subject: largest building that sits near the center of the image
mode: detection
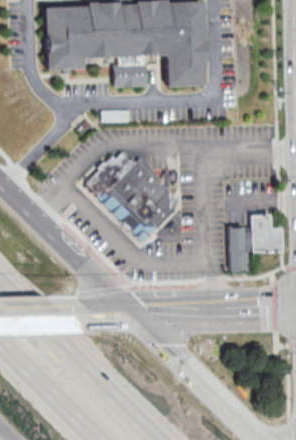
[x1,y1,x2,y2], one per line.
[84,150,178,240]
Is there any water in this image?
No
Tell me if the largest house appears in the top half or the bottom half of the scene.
top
